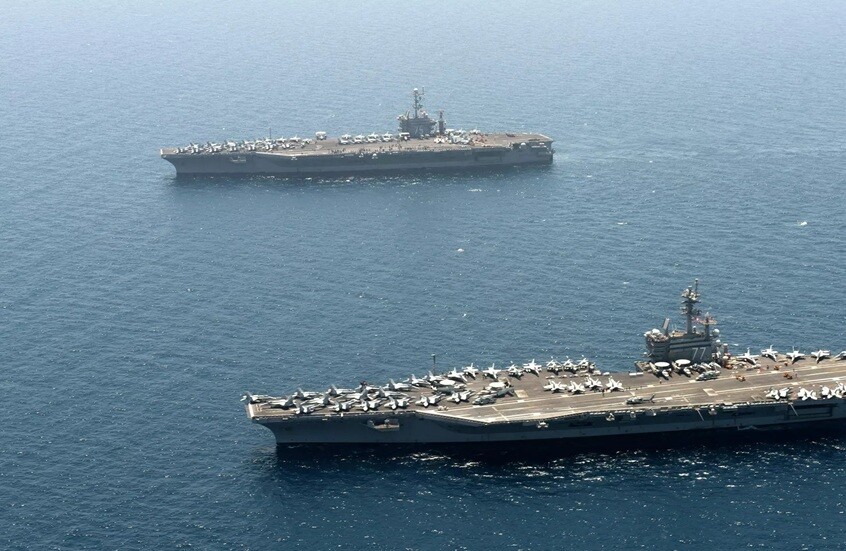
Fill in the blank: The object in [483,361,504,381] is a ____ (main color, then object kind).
white airplane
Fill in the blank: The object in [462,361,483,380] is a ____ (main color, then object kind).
white airplane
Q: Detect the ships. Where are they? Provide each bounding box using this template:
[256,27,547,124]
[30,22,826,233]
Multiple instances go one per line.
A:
[157,86,552,175]
[240,280,846,449]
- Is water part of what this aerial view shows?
Yes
